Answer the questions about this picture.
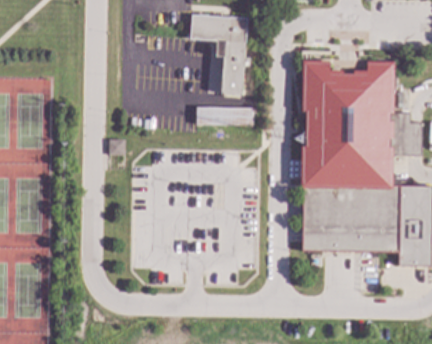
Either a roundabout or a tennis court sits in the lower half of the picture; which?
tennis court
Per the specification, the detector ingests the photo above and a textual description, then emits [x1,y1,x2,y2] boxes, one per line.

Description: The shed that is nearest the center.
[198,106,256,126]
